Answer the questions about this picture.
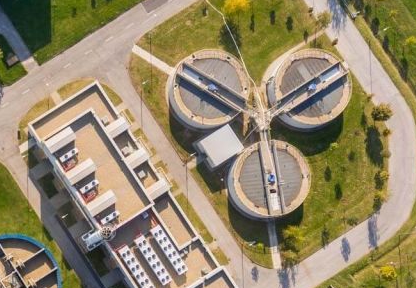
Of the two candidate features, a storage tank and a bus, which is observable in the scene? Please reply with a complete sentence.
This aerial view contains a storage tank.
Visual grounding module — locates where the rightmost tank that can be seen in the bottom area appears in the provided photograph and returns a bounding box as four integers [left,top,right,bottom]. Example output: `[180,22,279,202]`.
[224,133,312,220]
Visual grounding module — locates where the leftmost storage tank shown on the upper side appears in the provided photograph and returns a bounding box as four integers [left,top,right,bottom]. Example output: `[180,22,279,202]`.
[166,48,252,132]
